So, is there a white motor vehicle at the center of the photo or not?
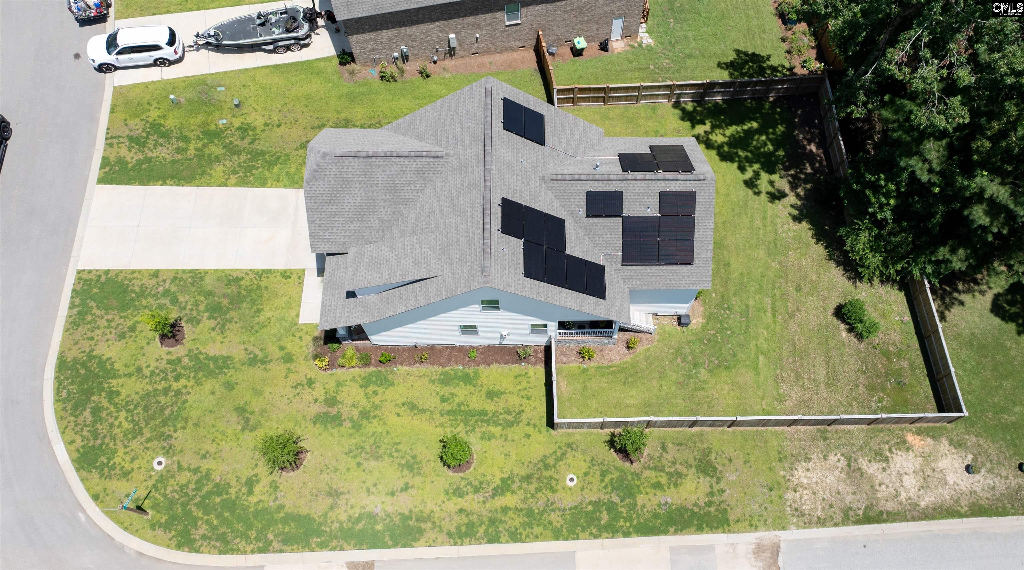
No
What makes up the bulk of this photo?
grass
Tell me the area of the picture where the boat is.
top left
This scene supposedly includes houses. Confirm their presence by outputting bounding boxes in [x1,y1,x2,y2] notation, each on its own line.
[330,0,645,65]
[302,77,717,347]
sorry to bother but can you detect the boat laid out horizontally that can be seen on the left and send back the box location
[187,0,334,42]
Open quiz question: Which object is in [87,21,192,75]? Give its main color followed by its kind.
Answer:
white car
